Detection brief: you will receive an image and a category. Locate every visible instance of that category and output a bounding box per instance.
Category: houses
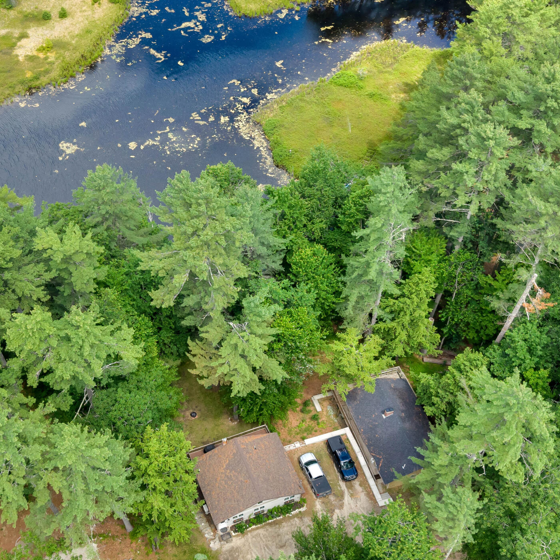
[184,427,305,538]
[332,368,451,499]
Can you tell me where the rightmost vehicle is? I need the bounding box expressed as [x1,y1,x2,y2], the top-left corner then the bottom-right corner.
[324,435,360,484]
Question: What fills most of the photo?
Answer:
trees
